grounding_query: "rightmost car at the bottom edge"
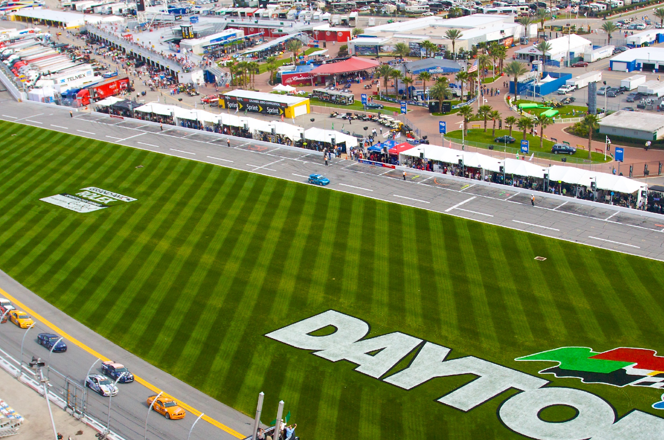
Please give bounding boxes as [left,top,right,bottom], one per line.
[148,392,187,420]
